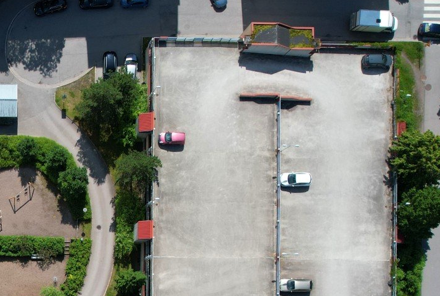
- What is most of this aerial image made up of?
buildings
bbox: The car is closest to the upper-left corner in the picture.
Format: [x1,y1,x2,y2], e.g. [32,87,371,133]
[33,0,68,16]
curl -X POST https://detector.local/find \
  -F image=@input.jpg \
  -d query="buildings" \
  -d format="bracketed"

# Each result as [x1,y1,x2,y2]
[128,23,405,296]
[0,85,17,121]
